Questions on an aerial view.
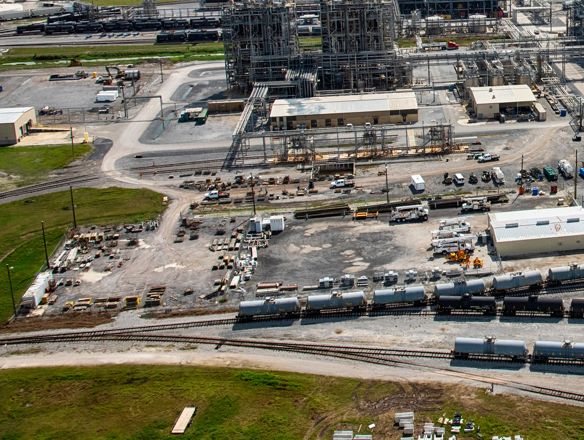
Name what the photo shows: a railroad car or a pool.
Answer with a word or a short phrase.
railroad car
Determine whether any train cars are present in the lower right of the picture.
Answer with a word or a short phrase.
Yes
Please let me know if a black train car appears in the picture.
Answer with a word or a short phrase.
Yes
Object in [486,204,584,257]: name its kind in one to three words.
shed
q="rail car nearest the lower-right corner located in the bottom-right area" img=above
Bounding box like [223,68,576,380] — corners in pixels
[528,329,584,364]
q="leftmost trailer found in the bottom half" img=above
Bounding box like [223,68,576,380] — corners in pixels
[15,262,58,300]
